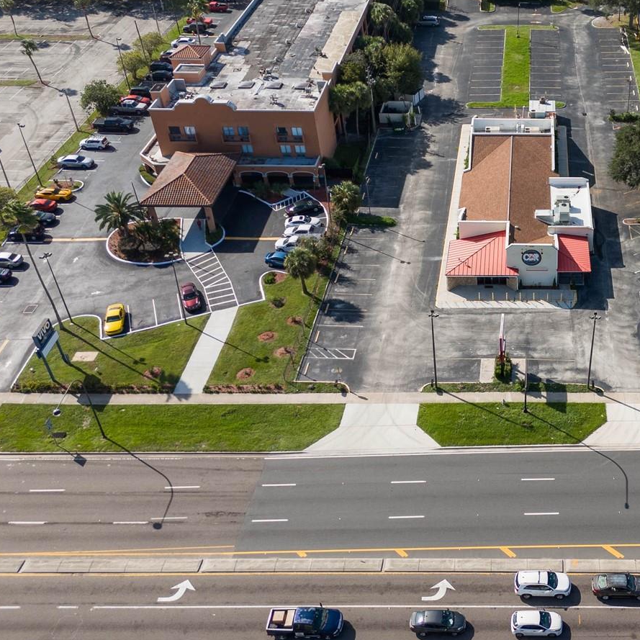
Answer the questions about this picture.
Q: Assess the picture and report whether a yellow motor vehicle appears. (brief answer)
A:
Yes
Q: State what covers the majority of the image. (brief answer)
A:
paved ground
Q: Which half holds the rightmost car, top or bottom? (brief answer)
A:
bottom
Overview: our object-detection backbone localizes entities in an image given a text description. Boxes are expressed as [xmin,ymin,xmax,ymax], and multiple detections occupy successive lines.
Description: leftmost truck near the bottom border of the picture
[264,602,343,637]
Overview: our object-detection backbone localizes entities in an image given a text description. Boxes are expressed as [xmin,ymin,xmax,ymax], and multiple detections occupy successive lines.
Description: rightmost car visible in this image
[593,569,640,598]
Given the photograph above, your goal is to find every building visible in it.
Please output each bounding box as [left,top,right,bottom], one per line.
[136,0,395,232]
[447,110,595,291]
